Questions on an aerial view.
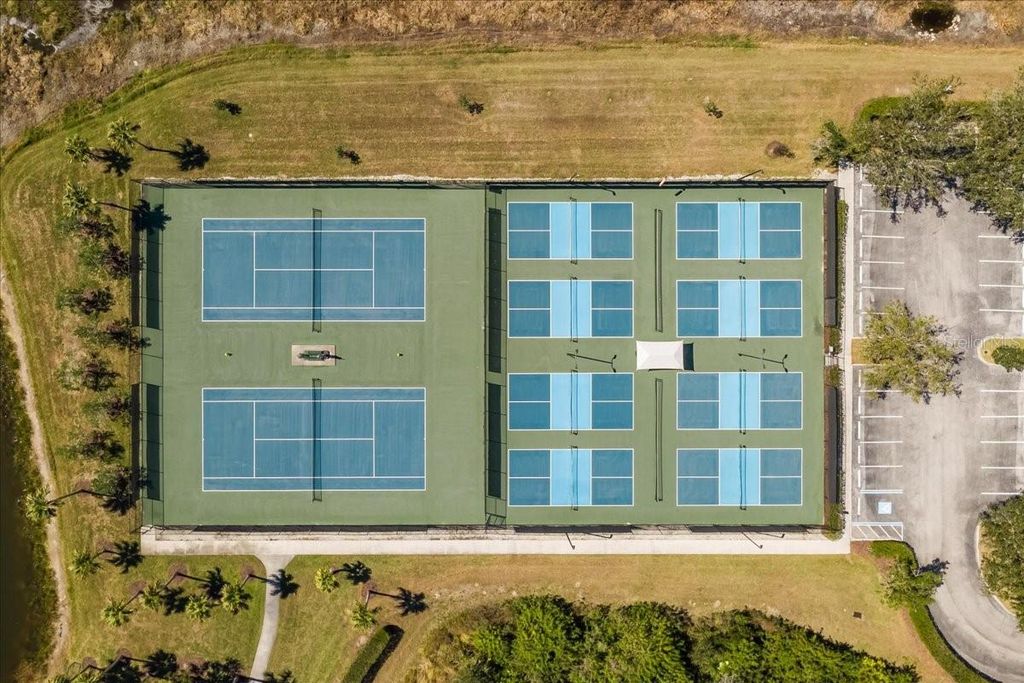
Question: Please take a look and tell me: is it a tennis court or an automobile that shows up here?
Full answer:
It is a tennis court that can be seen here.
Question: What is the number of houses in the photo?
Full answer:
There are no houses in the image.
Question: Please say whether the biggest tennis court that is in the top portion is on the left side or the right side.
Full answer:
It is on the left.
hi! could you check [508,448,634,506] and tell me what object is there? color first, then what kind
blue sports court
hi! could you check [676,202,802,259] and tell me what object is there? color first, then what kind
blue sports court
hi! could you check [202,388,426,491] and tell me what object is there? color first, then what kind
blue tennis court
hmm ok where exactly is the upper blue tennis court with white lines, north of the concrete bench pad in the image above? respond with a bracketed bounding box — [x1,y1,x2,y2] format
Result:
[202,218,426,321]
